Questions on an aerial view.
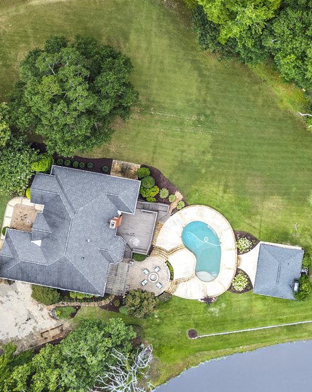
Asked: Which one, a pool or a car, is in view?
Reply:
pool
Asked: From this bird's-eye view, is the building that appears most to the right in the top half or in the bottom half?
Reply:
bottom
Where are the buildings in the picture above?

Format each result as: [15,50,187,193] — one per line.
[253,243,304,301]
[0,166,142,297]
